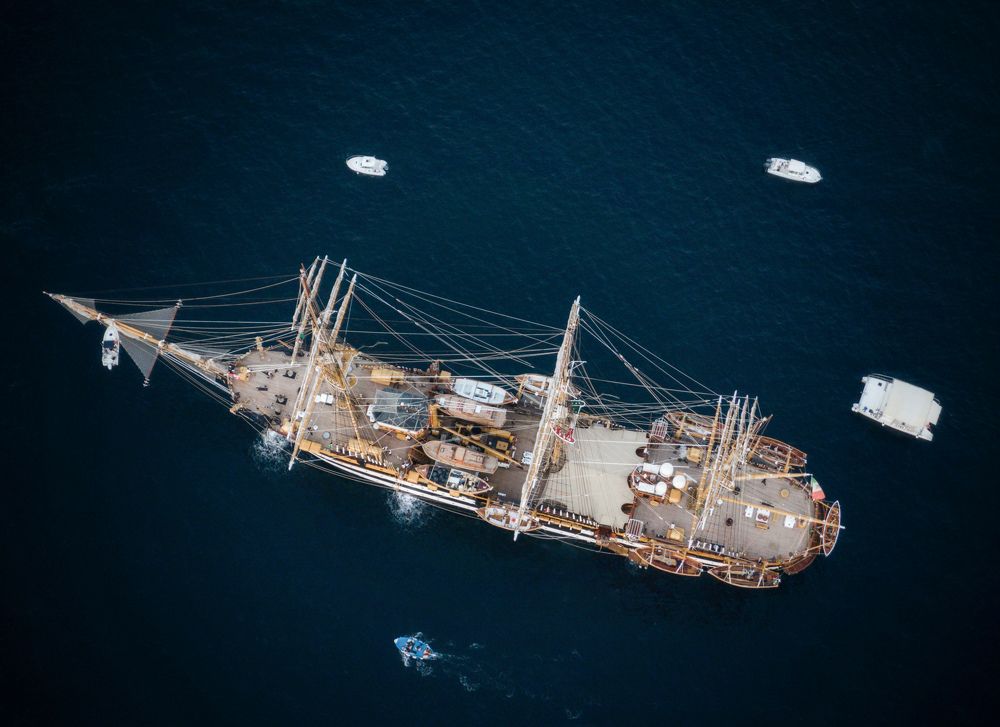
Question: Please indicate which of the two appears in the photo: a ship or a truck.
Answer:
ship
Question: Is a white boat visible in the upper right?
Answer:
Yes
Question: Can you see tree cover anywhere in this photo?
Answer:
No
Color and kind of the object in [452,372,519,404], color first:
white boat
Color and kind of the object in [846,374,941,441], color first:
white boat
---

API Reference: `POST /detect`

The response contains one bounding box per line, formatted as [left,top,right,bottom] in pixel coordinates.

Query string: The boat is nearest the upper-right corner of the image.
[763,157,823,183]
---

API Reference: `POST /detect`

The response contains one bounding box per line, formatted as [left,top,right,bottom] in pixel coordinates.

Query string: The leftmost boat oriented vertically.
[101,324,121,369]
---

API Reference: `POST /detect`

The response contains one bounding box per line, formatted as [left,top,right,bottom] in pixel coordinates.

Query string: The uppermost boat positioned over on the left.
[346,155,391,177]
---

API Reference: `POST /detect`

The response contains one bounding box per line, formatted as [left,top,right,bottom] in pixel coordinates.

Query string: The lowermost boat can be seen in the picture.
[393,636,439,662]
